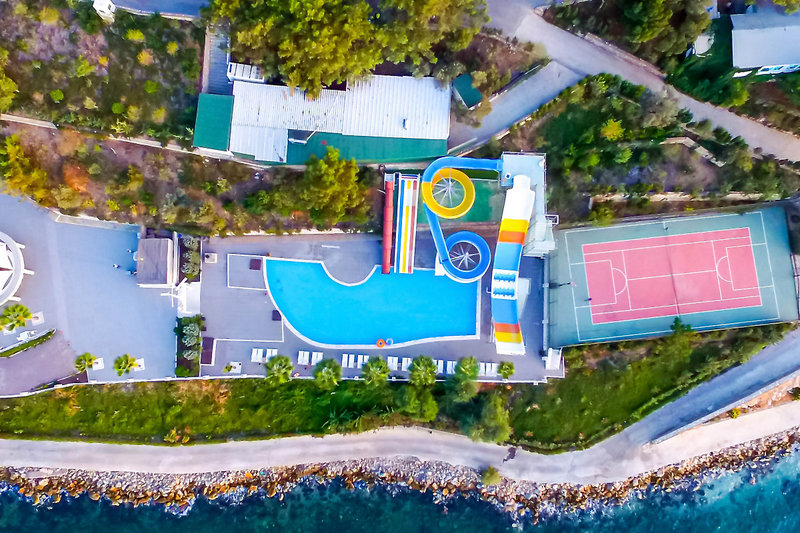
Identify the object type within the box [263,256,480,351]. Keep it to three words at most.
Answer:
swimming pool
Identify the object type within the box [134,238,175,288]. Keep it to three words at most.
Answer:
shed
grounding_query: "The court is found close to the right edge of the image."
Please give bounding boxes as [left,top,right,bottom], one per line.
[550,208,798,346]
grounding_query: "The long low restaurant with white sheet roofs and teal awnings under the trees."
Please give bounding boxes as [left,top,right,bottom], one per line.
[193,76,450,166]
